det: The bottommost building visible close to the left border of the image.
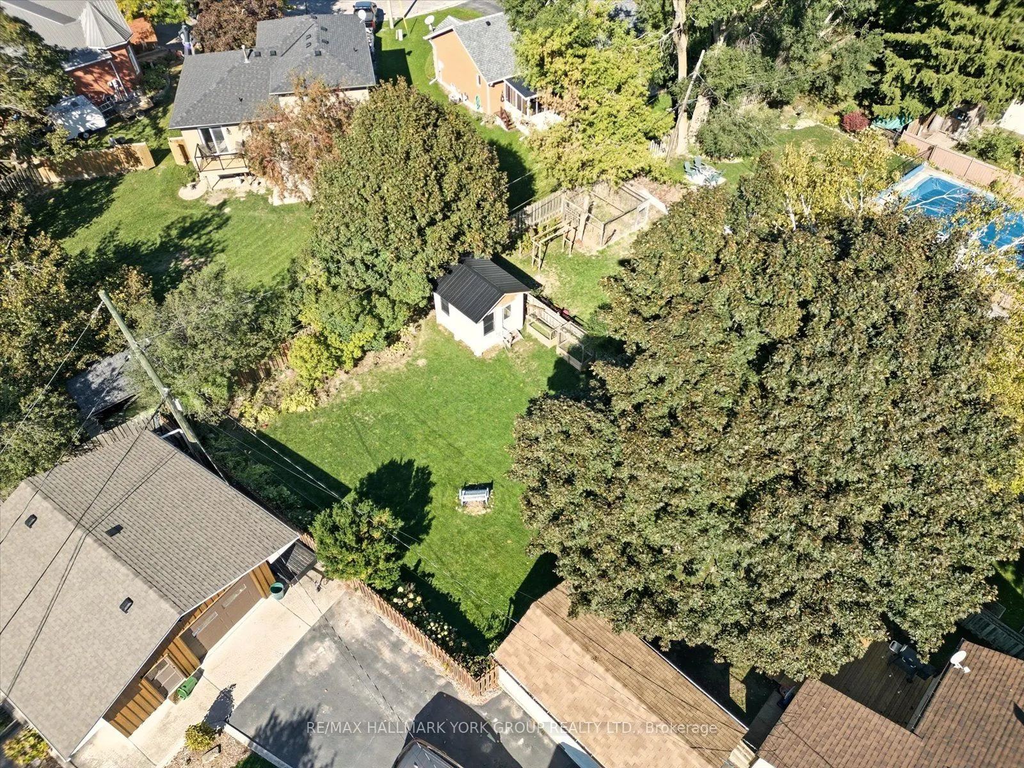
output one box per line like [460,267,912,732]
[0,428,302,768]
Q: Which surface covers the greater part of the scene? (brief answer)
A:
trees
